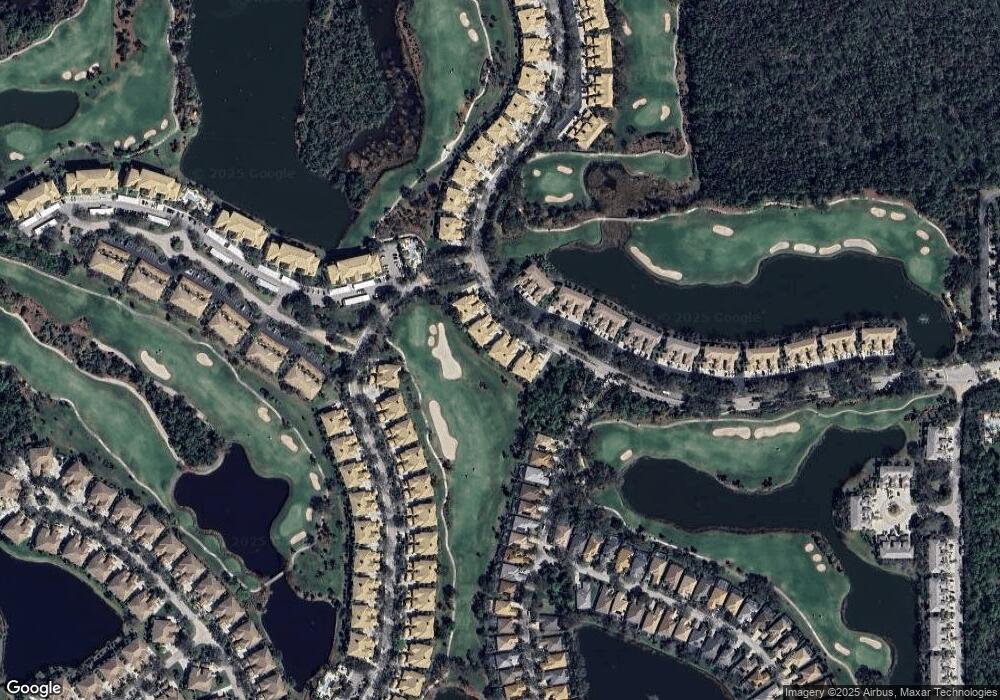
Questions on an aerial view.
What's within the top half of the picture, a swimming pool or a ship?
swimming pool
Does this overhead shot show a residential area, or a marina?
residential area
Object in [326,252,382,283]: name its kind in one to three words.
building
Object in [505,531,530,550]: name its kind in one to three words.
house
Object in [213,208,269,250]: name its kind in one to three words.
building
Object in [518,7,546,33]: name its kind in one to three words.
house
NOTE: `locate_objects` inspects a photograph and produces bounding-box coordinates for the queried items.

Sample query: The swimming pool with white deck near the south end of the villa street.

[317,666,347,699]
